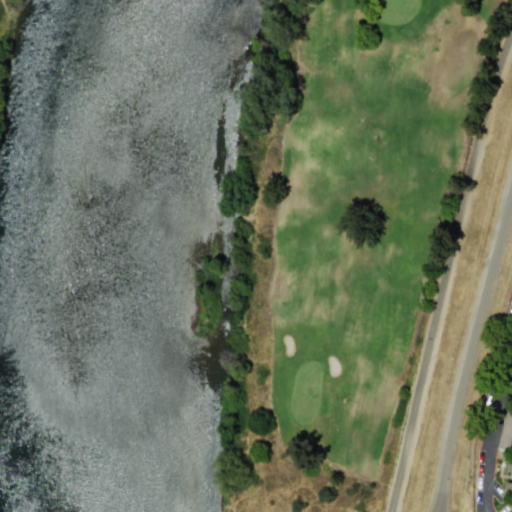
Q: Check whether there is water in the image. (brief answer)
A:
Yes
